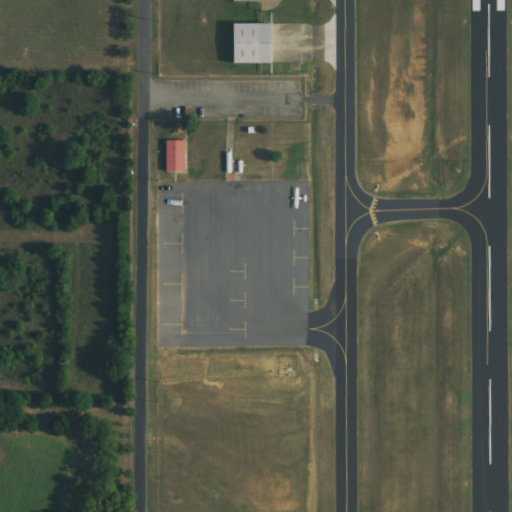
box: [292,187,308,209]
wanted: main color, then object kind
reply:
white airplane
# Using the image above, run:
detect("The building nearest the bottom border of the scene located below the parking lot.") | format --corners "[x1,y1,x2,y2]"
[166,140,185,172]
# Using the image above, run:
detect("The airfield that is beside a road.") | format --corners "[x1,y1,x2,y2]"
[158,0,508,512]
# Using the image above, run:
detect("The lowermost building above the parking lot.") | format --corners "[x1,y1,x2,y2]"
[234,12,272,74]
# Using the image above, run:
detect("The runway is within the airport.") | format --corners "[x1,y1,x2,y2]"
[452,0,508,512]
